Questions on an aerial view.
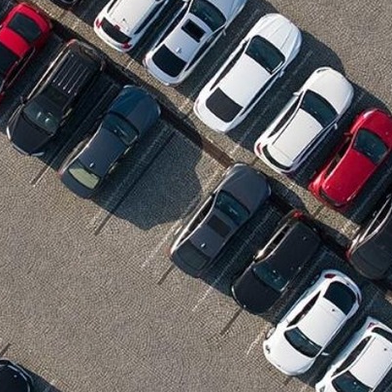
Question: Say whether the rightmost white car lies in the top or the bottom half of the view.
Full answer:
You can find the rightmost white car in the bottom half.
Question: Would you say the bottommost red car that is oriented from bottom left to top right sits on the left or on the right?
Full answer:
You can find the bottommost red car that is oriented from bottom left to top right on the right side of the picture.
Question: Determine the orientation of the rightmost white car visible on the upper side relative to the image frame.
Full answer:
I'd say the rightmost white car visible on the upper side is aligned on a diagonal in the picture.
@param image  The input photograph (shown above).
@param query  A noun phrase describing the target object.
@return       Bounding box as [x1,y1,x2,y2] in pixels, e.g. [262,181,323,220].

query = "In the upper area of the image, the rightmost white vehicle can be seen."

[253,68,356,178]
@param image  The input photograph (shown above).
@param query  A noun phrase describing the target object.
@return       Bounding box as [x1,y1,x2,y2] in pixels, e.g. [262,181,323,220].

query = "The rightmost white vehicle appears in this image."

[316,317,392,392]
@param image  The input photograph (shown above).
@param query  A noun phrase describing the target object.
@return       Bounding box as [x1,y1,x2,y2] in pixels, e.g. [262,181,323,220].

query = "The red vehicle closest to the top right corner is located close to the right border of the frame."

[308,107,392,214]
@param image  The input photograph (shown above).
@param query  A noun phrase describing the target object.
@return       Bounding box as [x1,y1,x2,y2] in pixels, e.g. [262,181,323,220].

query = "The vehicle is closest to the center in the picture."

[170,165,270,278]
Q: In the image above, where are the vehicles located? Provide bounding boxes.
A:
[170,165,270,278]
[346,187,392,281]
[60,88,160,199]
[230,210,327,311]
[0,2,52,100]
[316,317,392,392]
[264,270,364,373]
[253,68,356,178]
[146,0,246,87]
[308,107,392,214]
[93,0,175,55]
[195,15,302,132]
[7,40,108,155]
[0,359,34,392]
